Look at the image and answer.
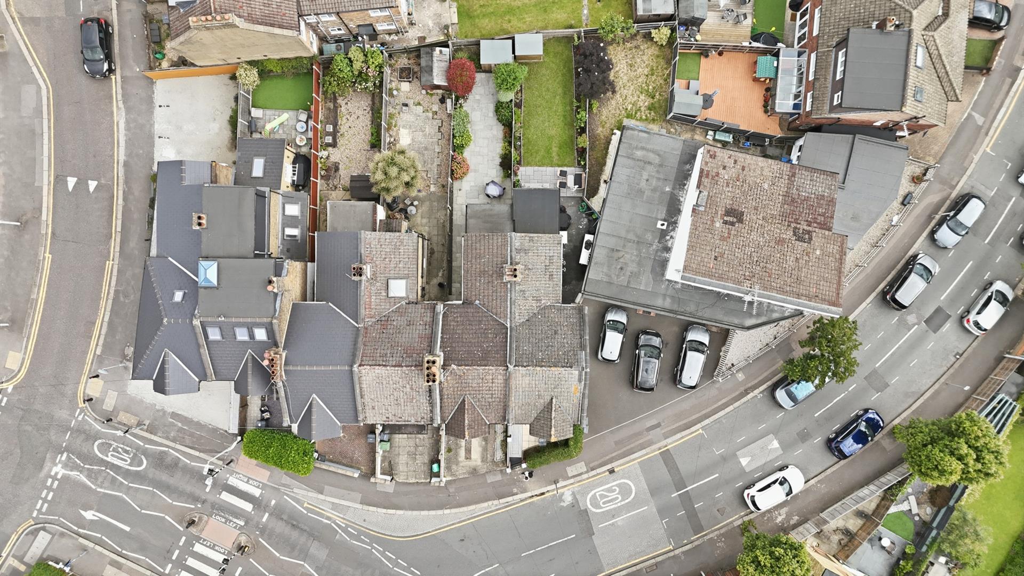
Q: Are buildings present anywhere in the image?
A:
Yes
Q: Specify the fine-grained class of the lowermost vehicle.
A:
car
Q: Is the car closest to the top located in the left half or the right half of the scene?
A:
right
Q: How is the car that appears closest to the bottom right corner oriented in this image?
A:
diagonally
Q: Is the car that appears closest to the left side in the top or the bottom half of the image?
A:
top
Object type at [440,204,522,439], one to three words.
house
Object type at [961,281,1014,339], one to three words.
car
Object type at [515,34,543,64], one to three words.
shed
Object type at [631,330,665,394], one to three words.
car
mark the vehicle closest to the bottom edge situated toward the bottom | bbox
[743,465,804,513]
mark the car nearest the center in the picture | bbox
[597,307,628,365]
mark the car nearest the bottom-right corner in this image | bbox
[825,407,886,462]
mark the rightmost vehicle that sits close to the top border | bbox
[968,0,1013,30]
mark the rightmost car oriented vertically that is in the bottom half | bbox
[675,324,712,392]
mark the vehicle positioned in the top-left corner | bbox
[80,17,115,80]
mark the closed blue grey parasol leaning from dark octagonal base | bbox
[700,86,724,111]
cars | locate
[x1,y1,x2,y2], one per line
[631,330,665,394]
[675,324,712,392]
[961,281,1014,339]
[743,465,804,513]
[968,0,1013,30]
[772,359,830,409]
[80,17,115,80]
[882,254,938,312]
[825,407,886,462]
[597,307,628,365]
[932,190,986,248]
